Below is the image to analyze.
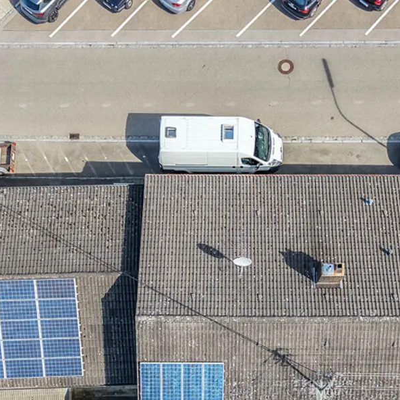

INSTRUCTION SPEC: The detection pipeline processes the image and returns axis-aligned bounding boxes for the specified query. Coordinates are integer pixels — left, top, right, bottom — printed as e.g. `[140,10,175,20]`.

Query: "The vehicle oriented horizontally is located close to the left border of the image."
[19,0,70,23]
